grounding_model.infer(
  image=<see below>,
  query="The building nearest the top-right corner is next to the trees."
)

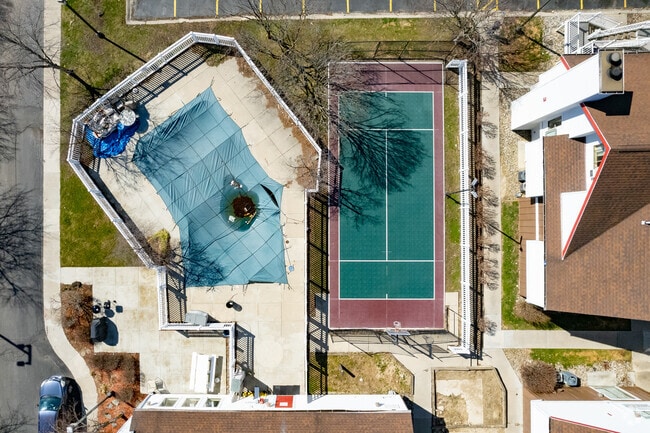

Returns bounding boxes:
[512,48,650,320]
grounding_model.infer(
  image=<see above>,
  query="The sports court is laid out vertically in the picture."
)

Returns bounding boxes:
[329,61,445,330]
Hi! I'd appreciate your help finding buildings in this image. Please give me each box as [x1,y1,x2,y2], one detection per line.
[523,384,650,433]
[512,48,650,320]
[110,392,414,433]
